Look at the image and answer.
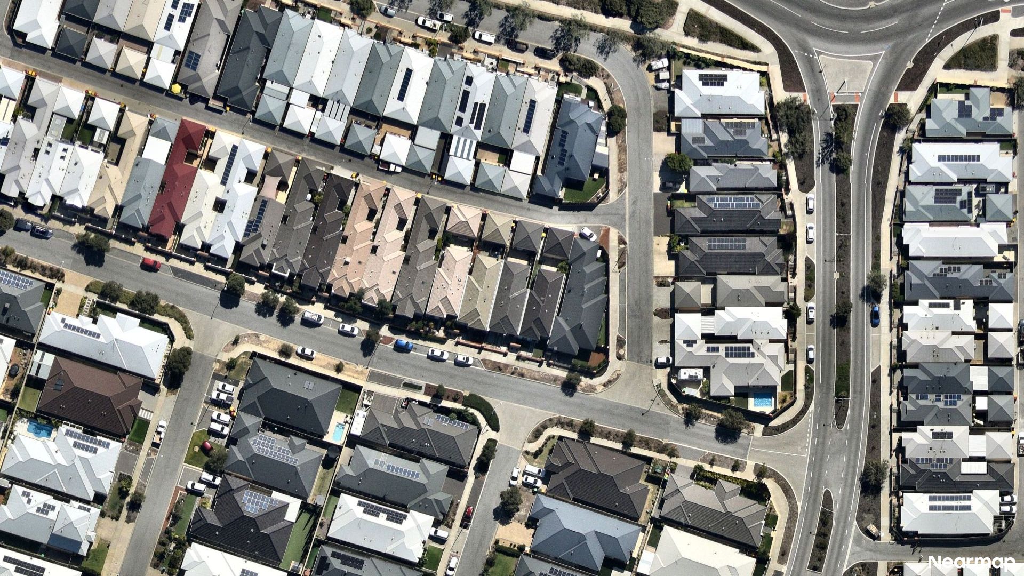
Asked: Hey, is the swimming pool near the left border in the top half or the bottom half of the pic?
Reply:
bottom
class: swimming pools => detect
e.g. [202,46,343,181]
[331,421,346,444]
[752,392,774,407]
[25,418,55,438]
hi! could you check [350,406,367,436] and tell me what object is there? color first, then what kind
white camper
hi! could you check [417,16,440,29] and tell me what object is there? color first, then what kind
white vehicle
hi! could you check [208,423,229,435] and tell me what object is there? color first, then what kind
white vehicle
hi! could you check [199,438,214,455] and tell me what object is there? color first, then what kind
red car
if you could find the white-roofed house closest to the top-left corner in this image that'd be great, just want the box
[13,0,65,48]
